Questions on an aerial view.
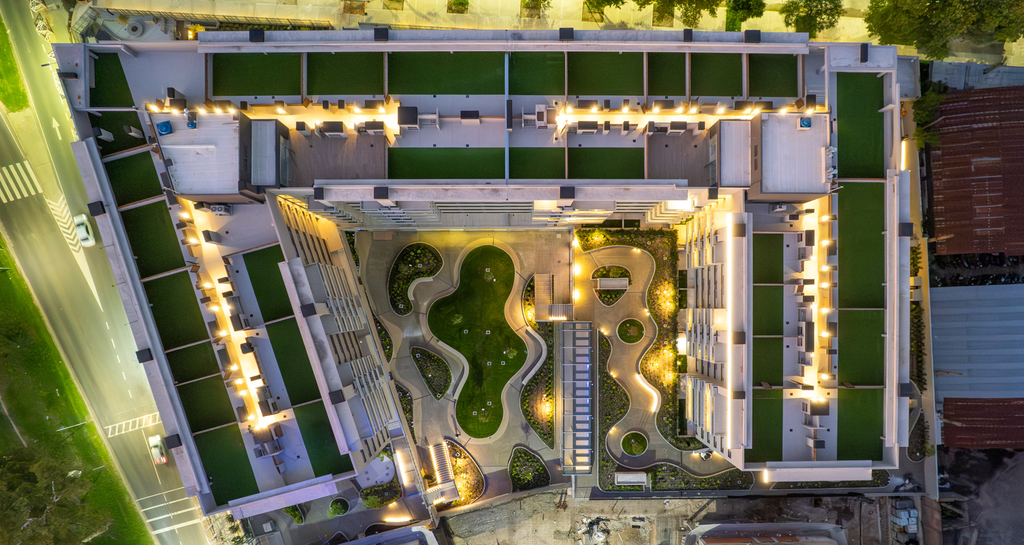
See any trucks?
No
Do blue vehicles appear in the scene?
No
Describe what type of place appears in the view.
industrial area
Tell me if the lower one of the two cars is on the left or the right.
left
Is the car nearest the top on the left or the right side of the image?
left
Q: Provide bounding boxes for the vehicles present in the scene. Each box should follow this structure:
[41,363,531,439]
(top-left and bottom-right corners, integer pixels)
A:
[149,433,170,466]
[76,214,98,247]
